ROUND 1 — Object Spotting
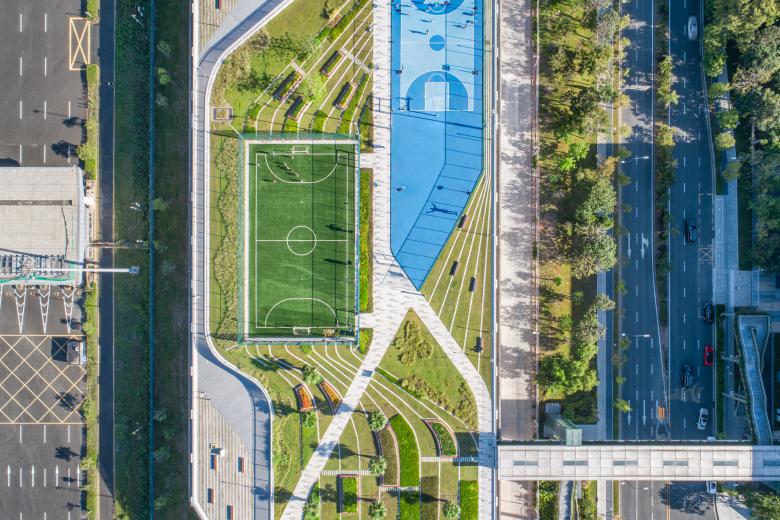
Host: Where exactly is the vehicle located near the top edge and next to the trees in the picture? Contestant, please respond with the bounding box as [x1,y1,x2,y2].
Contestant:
[689,16,701,37]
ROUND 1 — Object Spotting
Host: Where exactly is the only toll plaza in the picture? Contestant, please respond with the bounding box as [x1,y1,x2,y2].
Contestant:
[0,160,87,292]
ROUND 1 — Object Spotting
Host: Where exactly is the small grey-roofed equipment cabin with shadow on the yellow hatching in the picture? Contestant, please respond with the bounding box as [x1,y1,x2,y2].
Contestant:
[67,340,84,365]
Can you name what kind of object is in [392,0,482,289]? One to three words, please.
basketball court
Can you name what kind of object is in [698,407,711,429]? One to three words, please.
vehicle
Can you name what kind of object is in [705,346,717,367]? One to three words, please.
vehicle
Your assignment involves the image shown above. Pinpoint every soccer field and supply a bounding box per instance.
[244,139,358,342]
